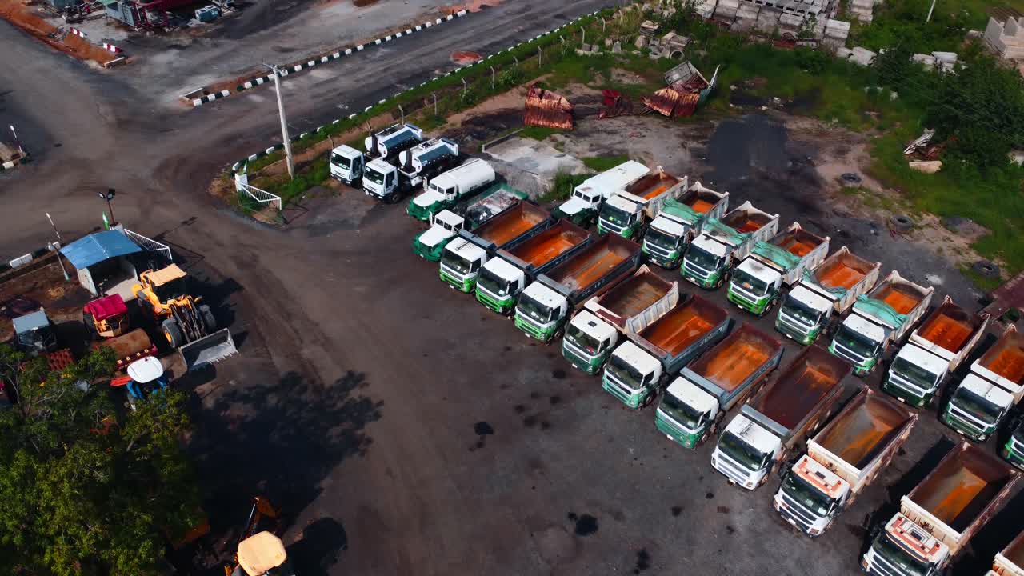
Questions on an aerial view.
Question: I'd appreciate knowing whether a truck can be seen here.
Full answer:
Yes, the frame does contain a truck.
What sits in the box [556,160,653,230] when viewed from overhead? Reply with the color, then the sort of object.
white truck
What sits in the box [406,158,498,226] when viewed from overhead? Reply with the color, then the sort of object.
white truck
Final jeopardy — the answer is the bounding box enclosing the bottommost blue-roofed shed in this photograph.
[60,230,140,295]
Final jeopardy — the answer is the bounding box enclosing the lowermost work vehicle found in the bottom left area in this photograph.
[223,501,292,576]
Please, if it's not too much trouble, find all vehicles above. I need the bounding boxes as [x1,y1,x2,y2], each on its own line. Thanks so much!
[942,324,1024,443]
[865,442,1018,576]
[330,120,424,185]
[363,134,460,201]
[602,294,728,408]
[597,164,689,242]
[829,269,935,374]
[712,345,855,489]
[654,325,782,447]
[775,390,915,533]
[556,160,653,230]
[681,200,780,289]
[775,246,881,345]
[474,219,588,314]
[223,501,292,576]
[513,233,642,341]
[406,158,498,226]
[412,187,523,265]
[128,361,181,424]
[641,182,733,267]
[438,202,550,293]
[883,296,991,408]
[120,262,244,374]
[726,222,830,314]
[560,265,680,374]
[79,295,156,369]
[12,307,92,379]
